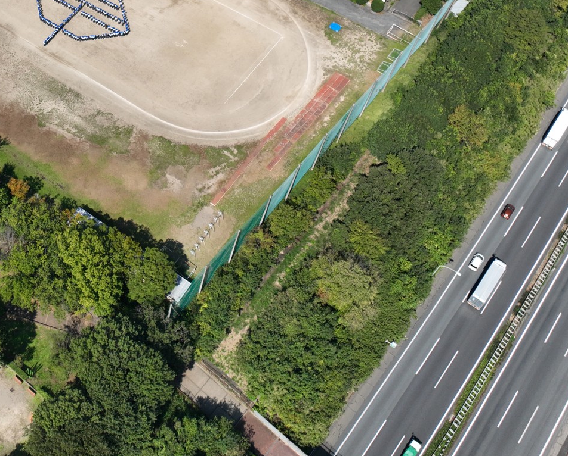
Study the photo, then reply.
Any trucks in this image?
Yes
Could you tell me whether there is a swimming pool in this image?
No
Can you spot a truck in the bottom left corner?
No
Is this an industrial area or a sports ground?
sports ground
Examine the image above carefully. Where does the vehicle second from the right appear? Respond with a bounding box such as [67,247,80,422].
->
[500,203,514,221]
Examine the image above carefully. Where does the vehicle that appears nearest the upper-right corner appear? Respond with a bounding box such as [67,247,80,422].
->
[539,113,568,153]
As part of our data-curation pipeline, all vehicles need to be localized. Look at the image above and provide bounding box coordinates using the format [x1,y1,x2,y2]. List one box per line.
[467,253,484,274]
[398,429,427,456]
[465,263,503,314]
[539,113,568,153]
[500,203,514,221]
